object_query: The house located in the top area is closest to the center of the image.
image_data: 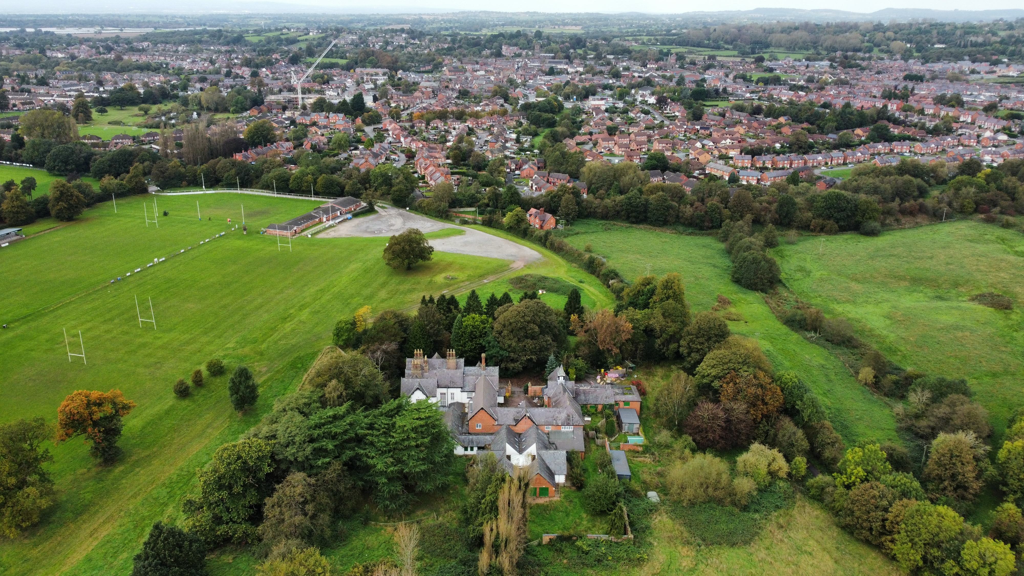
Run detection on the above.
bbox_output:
[528,207,561,233]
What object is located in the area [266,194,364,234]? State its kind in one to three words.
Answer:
building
